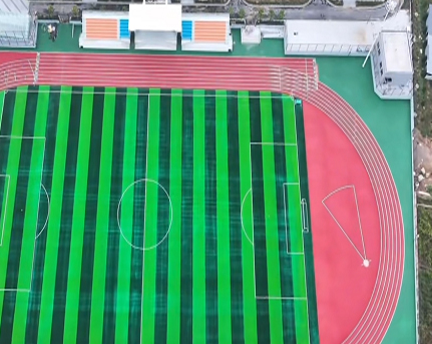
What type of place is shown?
sports ground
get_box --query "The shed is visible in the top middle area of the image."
[241,28,263,43]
